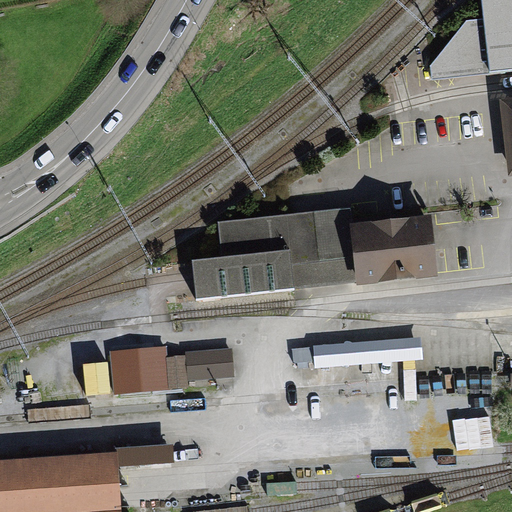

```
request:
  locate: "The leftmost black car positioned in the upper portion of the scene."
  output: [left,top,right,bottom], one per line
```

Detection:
[38,174,58,192]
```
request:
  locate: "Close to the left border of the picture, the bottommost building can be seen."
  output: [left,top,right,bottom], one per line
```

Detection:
[0,452,120,512]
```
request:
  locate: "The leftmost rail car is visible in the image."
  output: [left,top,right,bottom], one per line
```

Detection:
[24,405,93,424]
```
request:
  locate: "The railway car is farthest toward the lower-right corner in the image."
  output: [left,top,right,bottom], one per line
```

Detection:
[402,492,453,512]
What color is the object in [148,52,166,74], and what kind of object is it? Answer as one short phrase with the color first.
black car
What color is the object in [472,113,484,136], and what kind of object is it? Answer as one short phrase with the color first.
white vehicle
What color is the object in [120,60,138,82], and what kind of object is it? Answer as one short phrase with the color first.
blue car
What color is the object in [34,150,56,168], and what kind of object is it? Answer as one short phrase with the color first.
white vehicle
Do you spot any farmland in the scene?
No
